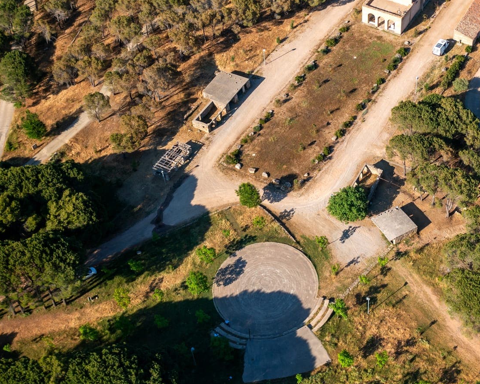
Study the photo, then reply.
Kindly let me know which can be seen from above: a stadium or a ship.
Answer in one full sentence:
The image shows a stadium.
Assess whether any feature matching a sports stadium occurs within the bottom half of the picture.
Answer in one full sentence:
Yes, I can see a sports stadium within the bottom half of the picture.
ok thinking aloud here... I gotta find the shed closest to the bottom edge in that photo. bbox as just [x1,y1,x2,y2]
[370,207,417,249]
